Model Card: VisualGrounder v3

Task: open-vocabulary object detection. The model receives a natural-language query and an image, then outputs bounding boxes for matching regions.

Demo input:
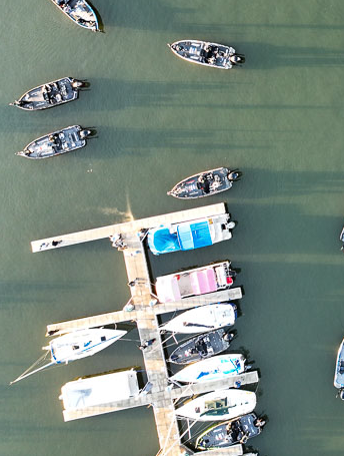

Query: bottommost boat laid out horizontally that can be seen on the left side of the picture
[52,370,140,411]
